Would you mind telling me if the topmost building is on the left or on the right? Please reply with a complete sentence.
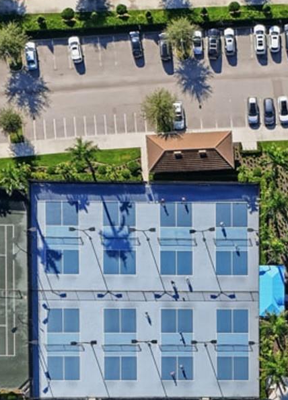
The topmost building sits on the right side.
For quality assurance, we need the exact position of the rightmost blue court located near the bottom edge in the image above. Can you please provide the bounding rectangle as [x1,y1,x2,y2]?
[214,308,251,381]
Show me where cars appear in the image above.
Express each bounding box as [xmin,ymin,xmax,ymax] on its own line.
[283,22,288,55]
[268,25,282,55]
[223,27,236,57]
[158,33,172,62]
[24,42,39,71]
[172,101,186,131]
[128,27,144,63]
[252,25,266,55]
[263,97,276,127]
[247,96,261,126]
[277,94,288,125]
[206,30,220,59]
[67,36,83,66]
